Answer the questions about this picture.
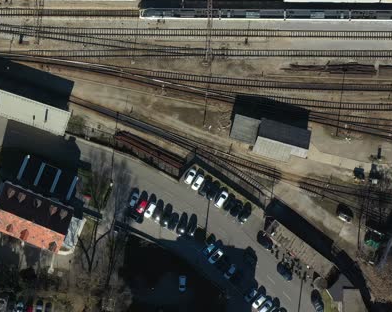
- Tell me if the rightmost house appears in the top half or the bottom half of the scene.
bottom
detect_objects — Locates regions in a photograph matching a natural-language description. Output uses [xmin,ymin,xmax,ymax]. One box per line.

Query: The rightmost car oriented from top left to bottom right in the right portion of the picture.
[339,207,352,224]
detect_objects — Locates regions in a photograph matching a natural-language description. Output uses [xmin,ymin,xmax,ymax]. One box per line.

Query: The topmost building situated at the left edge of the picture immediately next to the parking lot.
[0,89,71,136]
